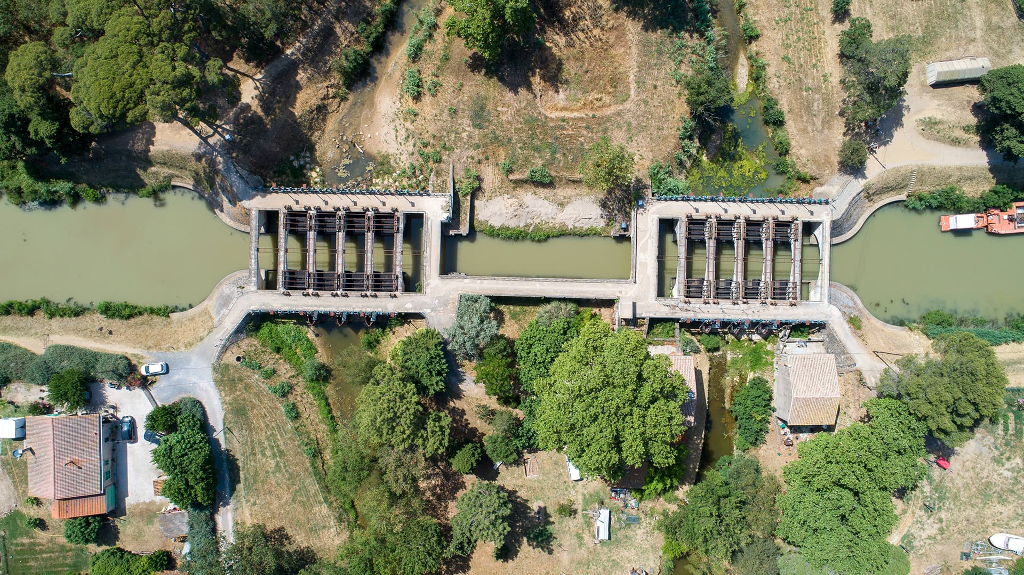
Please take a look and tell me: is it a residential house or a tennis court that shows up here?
residential house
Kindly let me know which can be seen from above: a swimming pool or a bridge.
bridge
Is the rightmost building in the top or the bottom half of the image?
top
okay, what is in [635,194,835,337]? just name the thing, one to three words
bridge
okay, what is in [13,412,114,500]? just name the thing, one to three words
house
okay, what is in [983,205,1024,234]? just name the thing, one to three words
ship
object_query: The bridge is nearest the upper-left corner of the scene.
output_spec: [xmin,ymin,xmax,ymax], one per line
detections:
[245,186,455,328]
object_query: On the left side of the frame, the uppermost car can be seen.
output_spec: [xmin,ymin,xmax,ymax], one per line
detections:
[140,362,166,375]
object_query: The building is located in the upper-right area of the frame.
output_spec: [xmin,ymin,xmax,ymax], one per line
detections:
[924,57,993,85]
